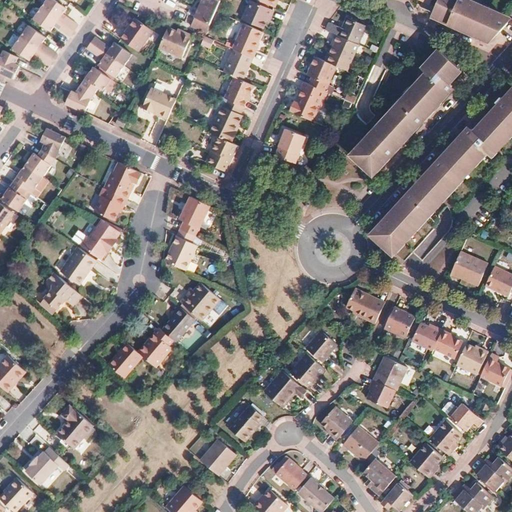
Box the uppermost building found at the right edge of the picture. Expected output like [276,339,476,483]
[430,0,506,44]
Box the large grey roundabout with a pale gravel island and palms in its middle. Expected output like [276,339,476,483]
[296,213,363,281]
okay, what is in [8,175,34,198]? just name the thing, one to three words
house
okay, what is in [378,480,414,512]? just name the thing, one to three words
house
